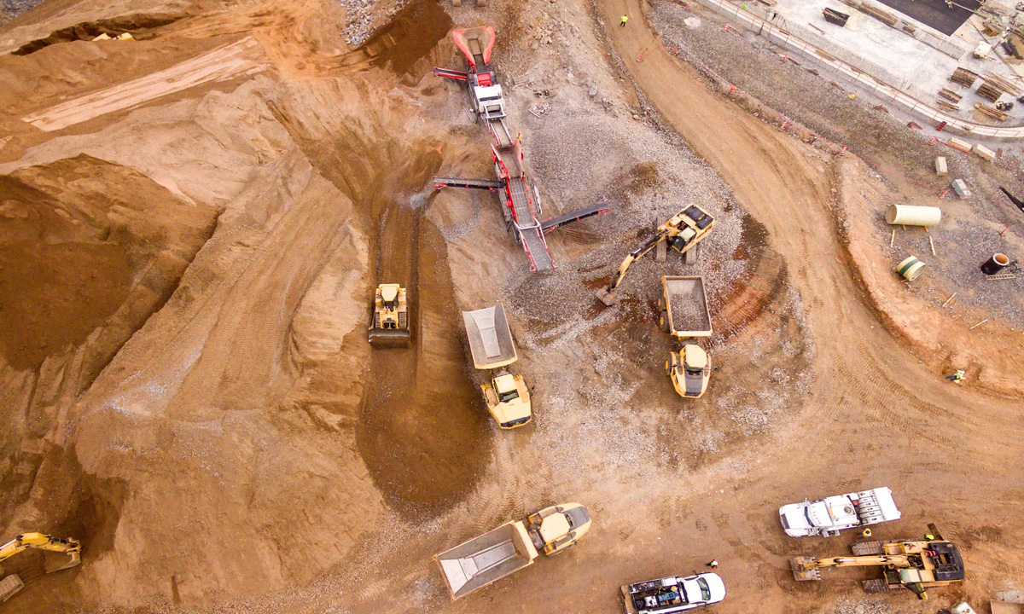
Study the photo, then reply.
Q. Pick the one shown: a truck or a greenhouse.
truck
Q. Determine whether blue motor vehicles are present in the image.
No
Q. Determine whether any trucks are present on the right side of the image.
Yes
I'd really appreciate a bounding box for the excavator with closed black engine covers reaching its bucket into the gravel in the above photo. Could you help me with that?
[601,200,716,303]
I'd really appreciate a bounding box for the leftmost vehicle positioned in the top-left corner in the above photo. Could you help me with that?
[109,29,156,46]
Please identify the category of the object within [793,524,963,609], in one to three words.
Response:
work vehicle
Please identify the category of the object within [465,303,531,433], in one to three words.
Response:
truck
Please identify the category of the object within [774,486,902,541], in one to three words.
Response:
truck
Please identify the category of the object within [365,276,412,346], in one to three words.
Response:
work vehicle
